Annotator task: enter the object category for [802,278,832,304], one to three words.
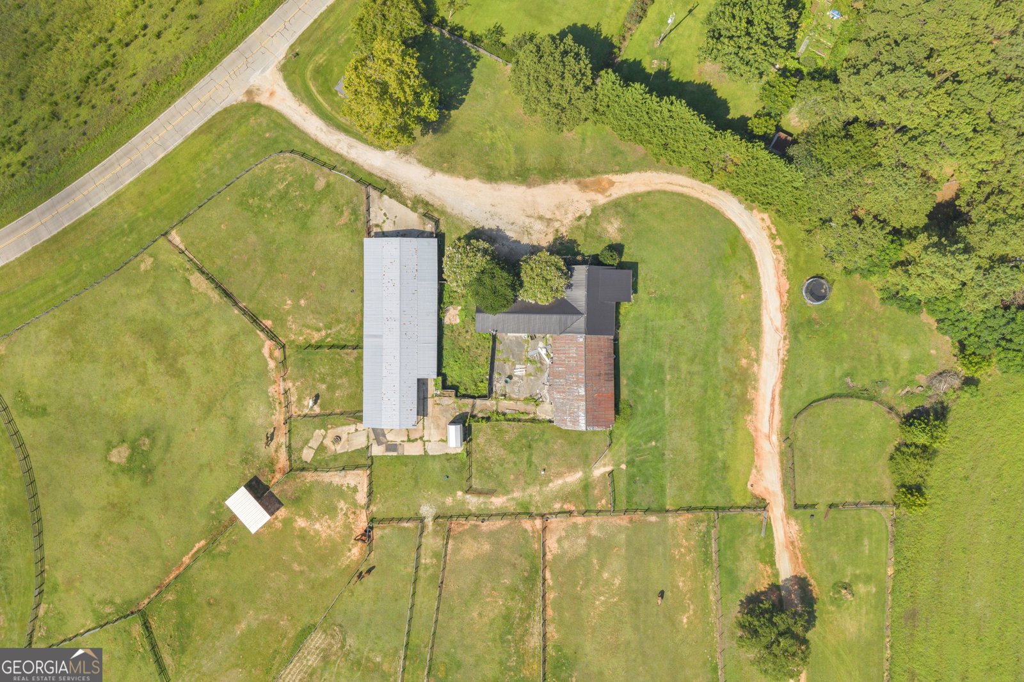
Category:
trampoline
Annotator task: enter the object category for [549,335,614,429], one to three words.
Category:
barn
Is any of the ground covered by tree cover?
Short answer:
Yes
